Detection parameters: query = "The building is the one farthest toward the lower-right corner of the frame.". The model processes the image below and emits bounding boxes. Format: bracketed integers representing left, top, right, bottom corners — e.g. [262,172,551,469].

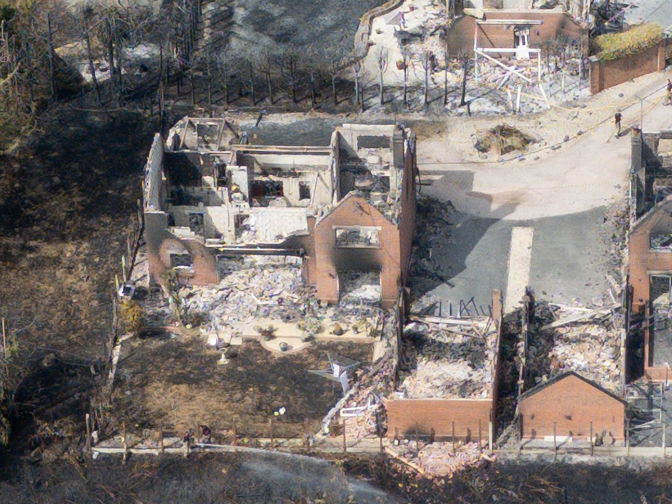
[516,274,629,444]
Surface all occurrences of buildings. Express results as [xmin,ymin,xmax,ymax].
[447,0,591,60]
[386,276,497,437]
[139,116,417,303]
[516,274,629,444]
[624,79,672,310]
